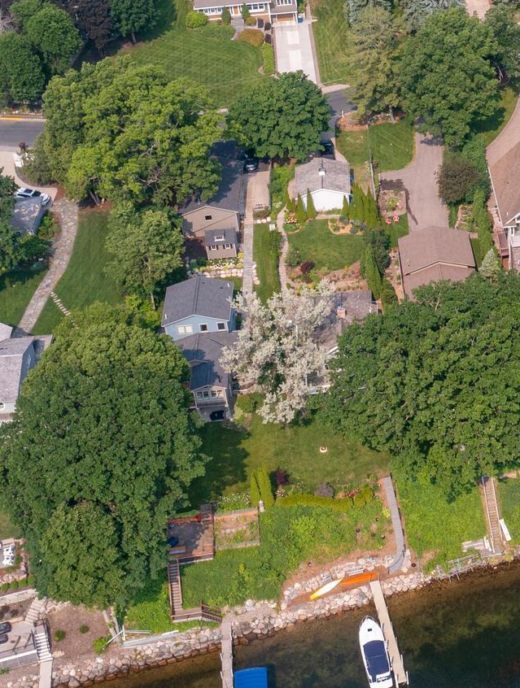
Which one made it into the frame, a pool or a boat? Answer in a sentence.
This aerial view contains a boat.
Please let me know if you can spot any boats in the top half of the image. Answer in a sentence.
No, no boat can be made out in the top half of the image.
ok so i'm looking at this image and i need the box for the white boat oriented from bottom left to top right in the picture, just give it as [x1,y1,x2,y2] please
[310,576,342,597]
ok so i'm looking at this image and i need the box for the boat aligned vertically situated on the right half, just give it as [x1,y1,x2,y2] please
[360,614,395,688]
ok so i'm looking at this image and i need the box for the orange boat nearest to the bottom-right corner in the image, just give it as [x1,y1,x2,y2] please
[339,571,377,585]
